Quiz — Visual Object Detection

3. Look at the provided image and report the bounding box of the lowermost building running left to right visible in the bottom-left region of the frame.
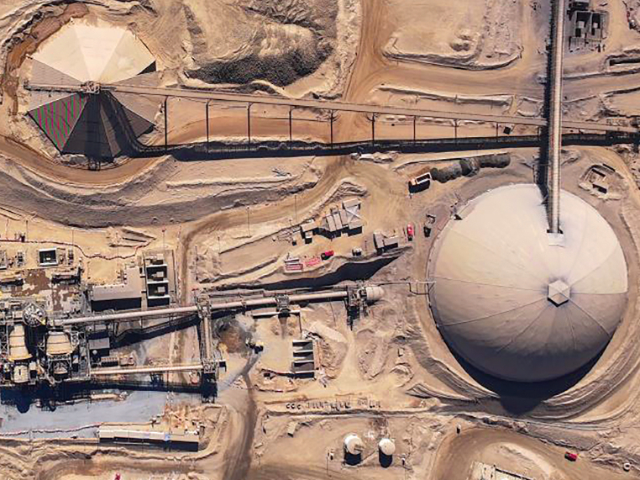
[97,425,198,440]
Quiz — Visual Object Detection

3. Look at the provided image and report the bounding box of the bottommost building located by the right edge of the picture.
[431,186,629,381]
